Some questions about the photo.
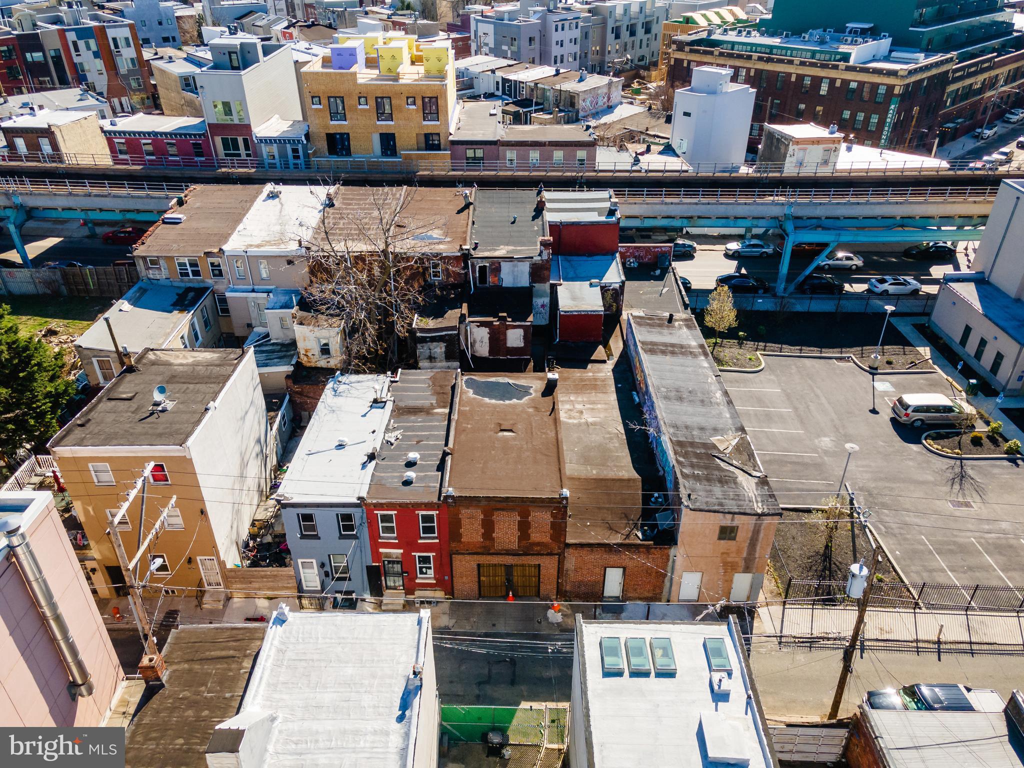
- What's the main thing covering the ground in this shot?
buildings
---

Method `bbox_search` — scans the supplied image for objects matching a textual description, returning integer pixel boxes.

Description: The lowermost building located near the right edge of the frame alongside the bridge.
[928,272,1024,392]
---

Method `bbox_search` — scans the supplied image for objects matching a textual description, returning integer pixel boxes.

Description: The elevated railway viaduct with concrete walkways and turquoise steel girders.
[0,160,1024,228]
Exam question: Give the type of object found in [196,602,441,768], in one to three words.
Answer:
house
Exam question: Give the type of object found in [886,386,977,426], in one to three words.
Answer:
car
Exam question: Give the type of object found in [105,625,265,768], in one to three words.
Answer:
house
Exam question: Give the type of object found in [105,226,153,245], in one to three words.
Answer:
car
